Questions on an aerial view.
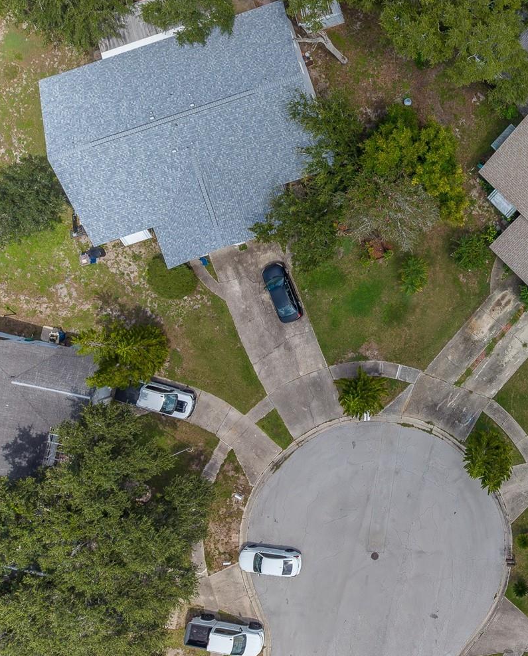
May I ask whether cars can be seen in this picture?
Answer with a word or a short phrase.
Yes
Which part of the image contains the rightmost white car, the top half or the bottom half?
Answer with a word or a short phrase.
bottom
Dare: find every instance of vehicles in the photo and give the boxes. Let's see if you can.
[262,260,305,324]
[184,614,268,656]
[240,542,305,577]
[114,378,202,420]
